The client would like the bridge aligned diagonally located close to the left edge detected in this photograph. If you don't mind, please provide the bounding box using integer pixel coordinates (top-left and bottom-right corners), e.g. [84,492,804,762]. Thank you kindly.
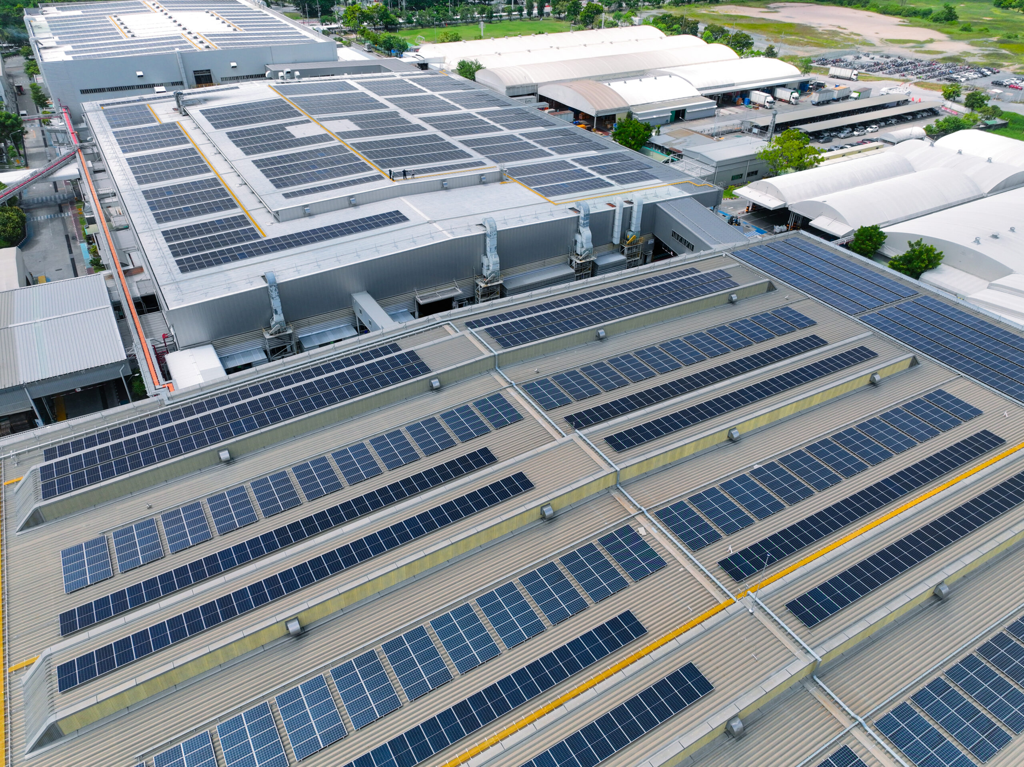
[0,145,81,202]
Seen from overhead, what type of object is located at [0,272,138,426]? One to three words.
shed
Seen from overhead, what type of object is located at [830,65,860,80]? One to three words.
vehicle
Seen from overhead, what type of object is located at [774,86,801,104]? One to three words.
vehicle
